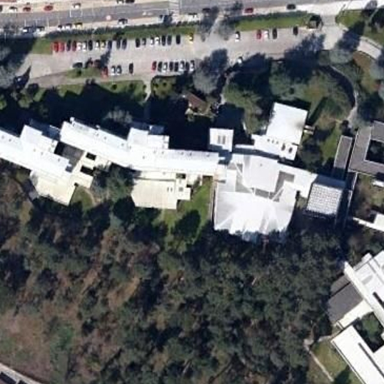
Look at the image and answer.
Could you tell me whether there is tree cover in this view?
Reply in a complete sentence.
Yes, there's tree cover in this view.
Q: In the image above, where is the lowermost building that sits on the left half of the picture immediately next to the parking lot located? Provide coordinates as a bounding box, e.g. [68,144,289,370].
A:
[0,117,227,209]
